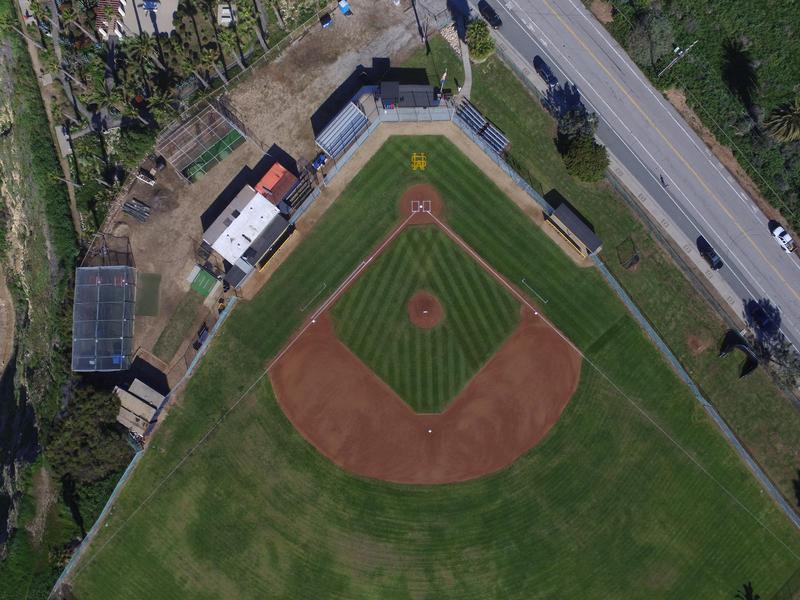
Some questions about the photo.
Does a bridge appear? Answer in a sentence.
No, there is no bridge in the image.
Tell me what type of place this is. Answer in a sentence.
This looks like a sports ground.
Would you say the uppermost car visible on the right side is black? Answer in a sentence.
Yes, the uppermost car visible on the right side appears black.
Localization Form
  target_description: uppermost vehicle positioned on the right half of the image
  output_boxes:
[479,0,503,26]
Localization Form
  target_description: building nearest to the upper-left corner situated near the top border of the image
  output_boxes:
[97,0,135,45]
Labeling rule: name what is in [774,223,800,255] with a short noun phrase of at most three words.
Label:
truck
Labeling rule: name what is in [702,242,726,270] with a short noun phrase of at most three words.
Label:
car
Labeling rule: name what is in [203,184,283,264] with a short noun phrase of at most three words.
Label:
building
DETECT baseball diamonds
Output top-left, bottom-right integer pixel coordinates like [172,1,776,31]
[53,123,800,600]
